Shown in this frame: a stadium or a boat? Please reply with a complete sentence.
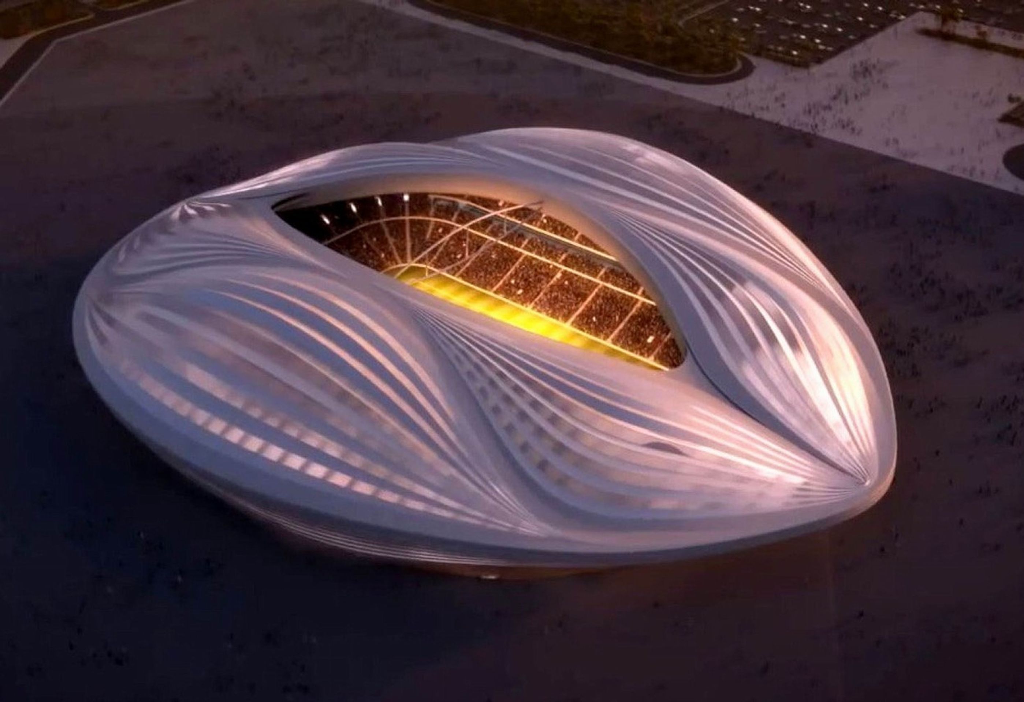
It is a stadium that can be seen here.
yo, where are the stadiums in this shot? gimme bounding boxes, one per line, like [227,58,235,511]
[73,129,897,581]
